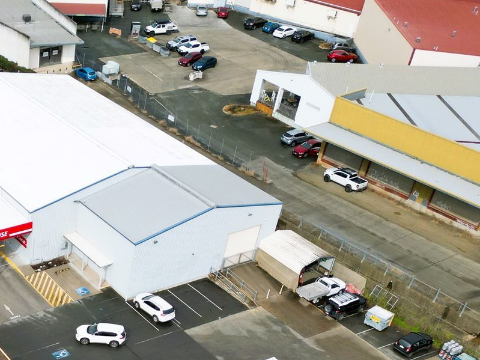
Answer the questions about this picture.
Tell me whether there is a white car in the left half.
Yes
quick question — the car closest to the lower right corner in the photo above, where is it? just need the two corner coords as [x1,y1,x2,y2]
[394,328,437,355]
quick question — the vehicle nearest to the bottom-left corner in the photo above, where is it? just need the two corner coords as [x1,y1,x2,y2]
[77,323,126,348]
